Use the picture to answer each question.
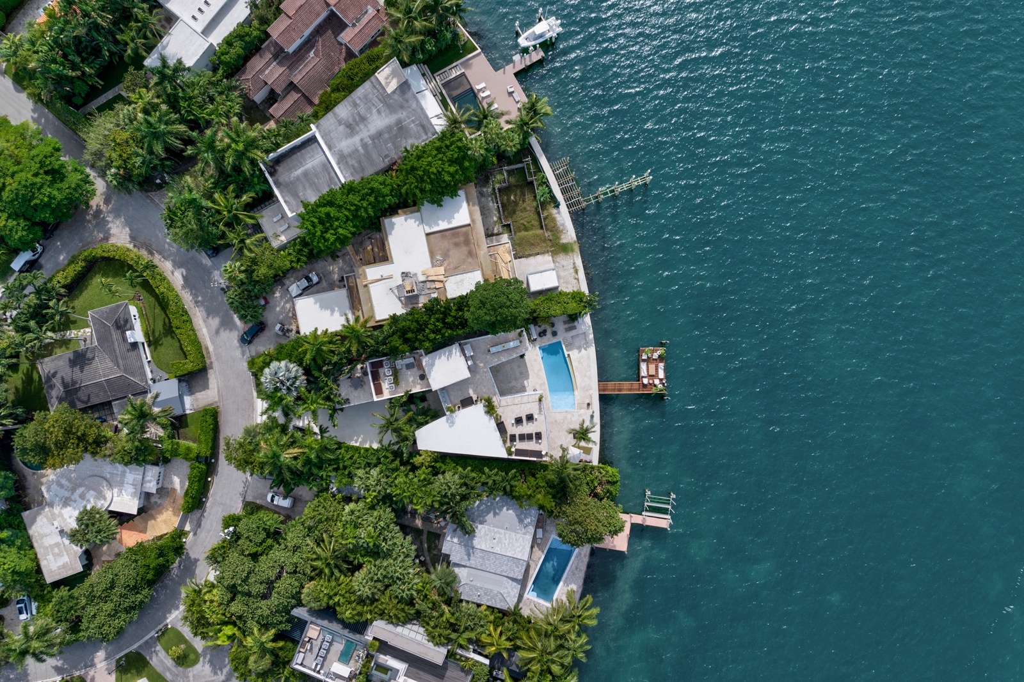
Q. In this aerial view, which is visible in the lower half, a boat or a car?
car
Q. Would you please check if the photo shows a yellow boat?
No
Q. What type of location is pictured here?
residential area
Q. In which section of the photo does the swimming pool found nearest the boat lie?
top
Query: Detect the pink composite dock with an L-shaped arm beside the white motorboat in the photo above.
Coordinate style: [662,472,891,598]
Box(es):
[460,50,545,131]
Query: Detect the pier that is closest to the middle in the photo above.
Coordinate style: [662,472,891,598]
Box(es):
[600,347,667,394]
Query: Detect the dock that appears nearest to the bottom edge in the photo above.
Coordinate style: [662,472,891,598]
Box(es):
[592,512,670,552]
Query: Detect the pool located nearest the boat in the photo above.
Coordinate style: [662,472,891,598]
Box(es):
[437,68,492,133]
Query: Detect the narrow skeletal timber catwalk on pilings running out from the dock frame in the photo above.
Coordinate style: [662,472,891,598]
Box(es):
[584,171,653,205]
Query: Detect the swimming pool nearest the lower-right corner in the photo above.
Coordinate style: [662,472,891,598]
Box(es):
[524,535,579,608]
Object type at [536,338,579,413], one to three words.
swimming pool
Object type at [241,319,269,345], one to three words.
car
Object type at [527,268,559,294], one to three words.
shed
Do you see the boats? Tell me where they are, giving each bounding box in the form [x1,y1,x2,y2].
[519,14,565,46]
